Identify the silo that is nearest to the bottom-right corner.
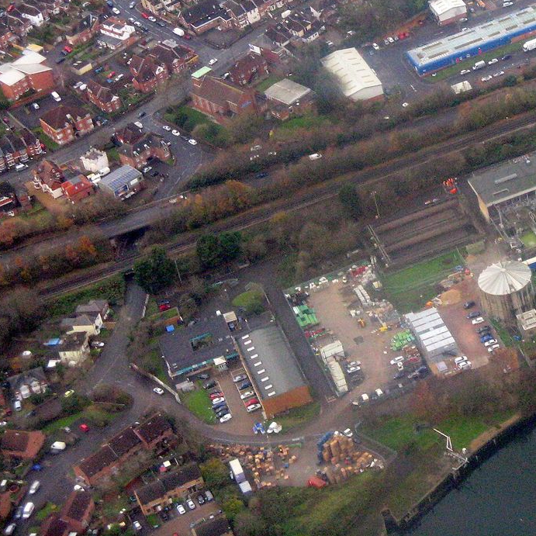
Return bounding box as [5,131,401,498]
[480,260,536,316]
